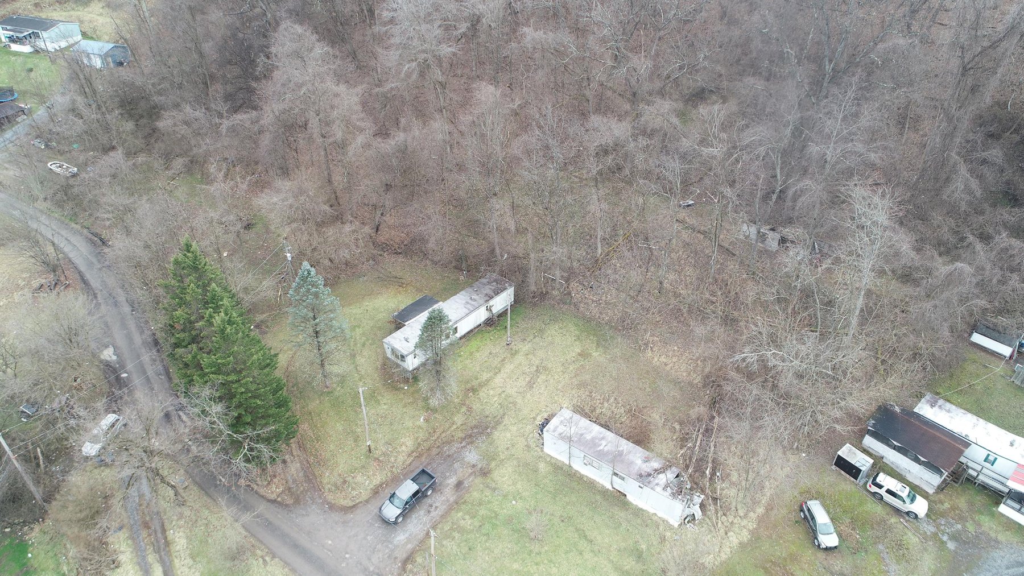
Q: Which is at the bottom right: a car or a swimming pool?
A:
car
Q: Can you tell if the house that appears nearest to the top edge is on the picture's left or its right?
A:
left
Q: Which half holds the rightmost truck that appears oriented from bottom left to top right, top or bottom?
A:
bottom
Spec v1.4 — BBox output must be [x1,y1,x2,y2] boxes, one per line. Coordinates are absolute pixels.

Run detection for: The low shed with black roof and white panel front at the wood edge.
[971,319,1024,358]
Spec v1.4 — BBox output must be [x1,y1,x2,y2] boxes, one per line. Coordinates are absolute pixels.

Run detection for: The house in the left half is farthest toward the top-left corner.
[2,4,89,51]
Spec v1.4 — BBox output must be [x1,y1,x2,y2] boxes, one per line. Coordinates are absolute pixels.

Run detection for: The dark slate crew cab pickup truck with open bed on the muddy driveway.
[379,470,437,522]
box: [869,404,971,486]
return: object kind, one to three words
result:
shed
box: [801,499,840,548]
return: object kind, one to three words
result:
car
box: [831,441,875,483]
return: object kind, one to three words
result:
shed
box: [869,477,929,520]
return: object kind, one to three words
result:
car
